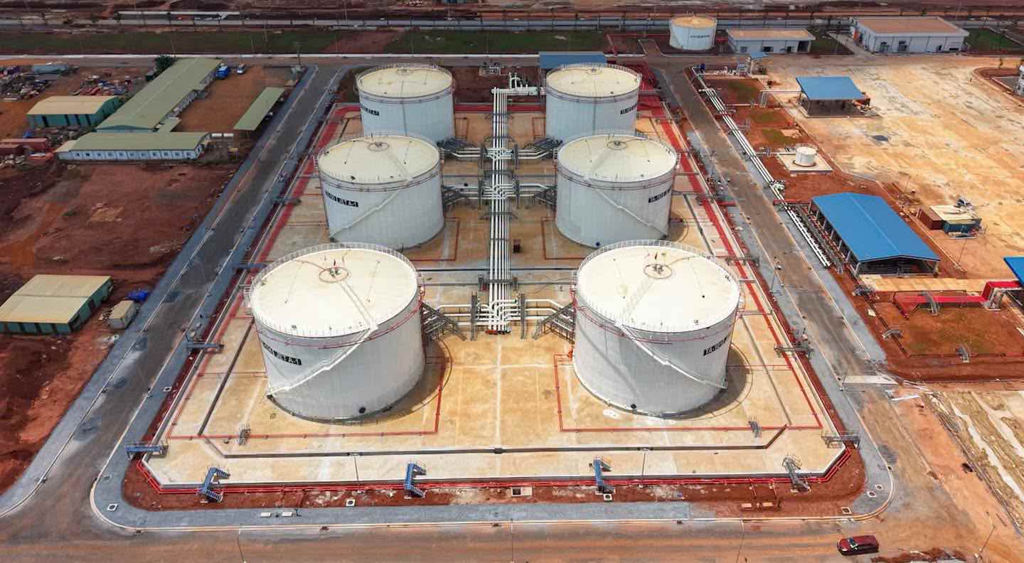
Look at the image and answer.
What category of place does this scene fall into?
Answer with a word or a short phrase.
industrial area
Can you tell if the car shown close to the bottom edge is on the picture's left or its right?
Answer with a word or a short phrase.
right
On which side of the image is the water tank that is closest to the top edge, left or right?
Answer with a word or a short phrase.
right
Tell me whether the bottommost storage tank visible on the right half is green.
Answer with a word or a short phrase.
No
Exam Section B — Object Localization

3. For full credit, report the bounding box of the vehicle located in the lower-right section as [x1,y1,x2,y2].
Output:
[839,534,884,557]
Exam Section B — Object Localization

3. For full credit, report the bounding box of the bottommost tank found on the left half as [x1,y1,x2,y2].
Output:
[240,242,427,423]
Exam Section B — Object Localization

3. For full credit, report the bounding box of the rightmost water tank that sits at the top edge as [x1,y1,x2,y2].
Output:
[670,13,722,51]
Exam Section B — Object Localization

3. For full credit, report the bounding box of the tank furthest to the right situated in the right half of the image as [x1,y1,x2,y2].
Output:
[776,139,833,171]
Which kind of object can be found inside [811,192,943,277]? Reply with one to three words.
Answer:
shed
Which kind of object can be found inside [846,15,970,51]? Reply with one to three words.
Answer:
building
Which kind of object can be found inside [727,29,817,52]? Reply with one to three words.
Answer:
building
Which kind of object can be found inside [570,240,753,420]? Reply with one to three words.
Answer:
storage tank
